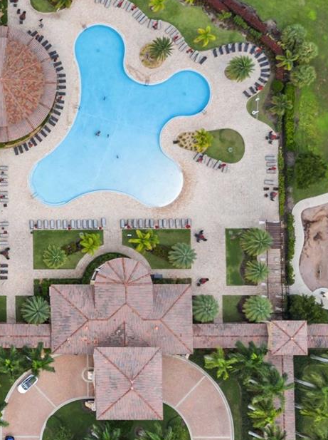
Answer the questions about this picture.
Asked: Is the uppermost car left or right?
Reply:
left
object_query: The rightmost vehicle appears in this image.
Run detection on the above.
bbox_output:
[18,372,38,394]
